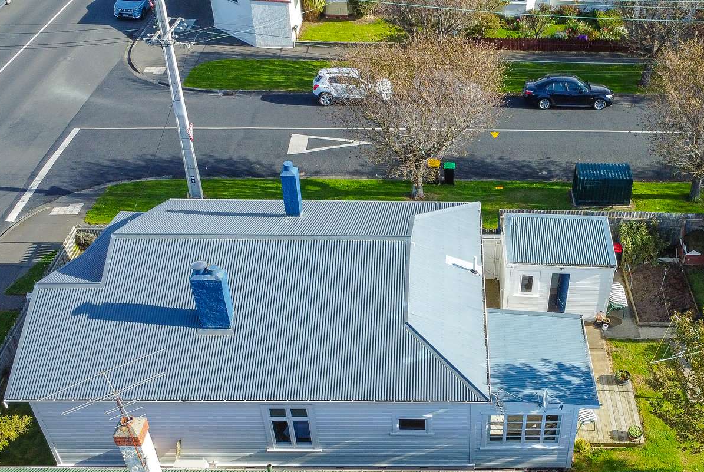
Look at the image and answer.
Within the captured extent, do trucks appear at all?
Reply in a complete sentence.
No, I can see no truck in this picture.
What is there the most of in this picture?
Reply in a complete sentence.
The bulk of the photo consists of buildings.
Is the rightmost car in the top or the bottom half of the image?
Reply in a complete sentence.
The top half of the photo is where the rightmost car is.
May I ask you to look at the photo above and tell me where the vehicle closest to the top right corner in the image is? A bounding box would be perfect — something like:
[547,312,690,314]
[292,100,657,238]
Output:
[524,72,618,108]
